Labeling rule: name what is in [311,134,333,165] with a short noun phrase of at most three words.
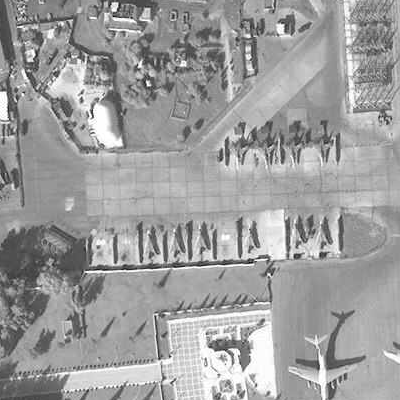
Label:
airplane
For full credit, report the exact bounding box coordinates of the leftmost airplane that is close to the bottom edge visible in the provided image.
[287,333,357,400]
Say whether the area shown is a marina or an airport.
airport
